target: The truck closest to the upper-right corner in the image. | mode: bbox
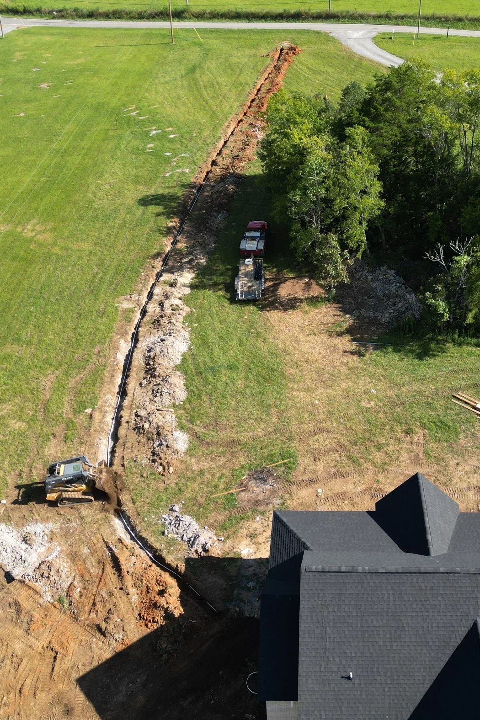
[240,221,270,256]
